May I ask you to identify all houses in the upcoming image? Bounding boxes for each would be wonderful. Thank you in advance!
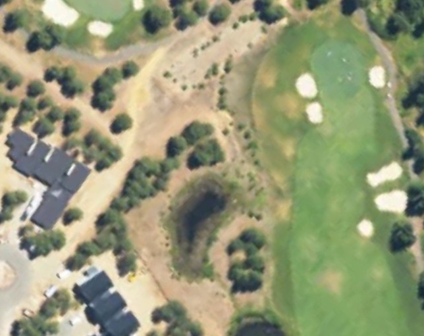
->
[1,128,91,230]
[75,263,139,336]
